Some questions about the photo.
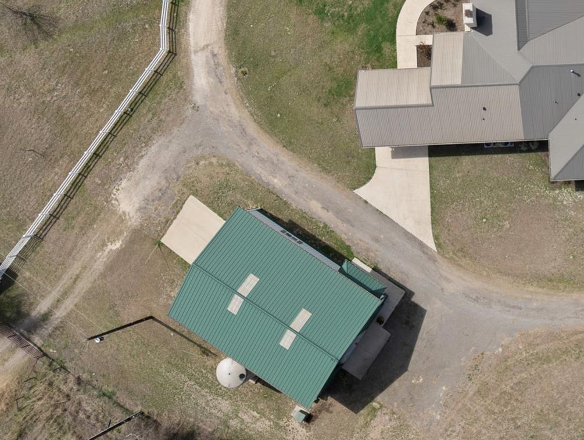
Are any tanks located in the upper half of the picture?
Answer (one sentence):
No, no tank appears in the upper half of the picture.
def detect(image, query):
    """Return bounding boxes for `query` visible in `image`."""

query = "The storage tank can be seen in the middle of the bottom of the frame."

[217,356,253,387]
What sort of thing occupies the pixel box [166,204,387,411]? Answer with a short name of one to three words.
barn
